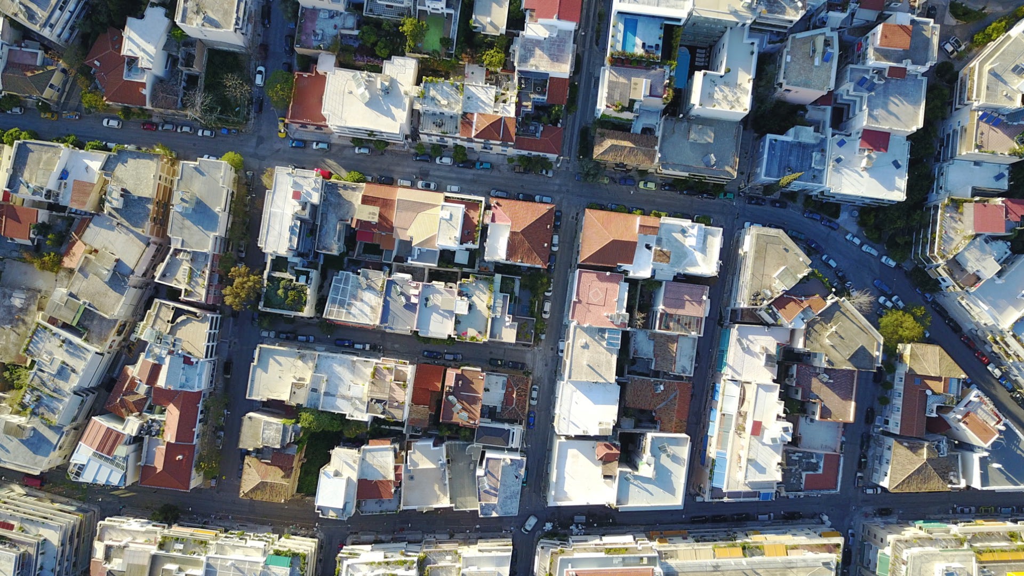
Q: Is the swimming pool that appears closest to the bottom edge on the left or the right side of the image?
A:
right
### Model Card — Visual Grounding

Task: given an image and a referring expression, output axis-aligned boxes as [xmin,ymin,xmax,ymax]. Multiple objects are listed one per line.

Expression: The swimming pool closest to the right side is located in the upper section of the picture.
[670,46,692,93]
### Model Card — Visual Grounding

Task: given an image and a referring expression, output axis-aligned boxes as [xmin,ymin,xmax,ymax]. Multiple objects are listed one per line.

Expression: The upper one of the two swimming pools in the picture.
[623,18,637,52]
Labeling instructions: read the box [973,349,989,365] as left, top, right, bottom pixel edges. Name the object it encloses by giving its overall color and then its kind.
red car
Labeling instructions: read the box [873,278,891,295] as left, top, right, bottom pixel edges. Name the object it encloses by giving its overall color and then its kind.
blue car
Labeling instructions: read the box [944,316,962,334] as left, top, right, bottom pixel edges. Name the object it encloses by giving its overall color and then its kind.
black car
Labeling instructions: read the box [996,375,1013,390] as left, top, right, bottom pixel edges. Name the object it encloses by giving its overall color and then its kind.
blue car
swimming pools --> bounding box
[670,46,692,93]
[623,18,637,52]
